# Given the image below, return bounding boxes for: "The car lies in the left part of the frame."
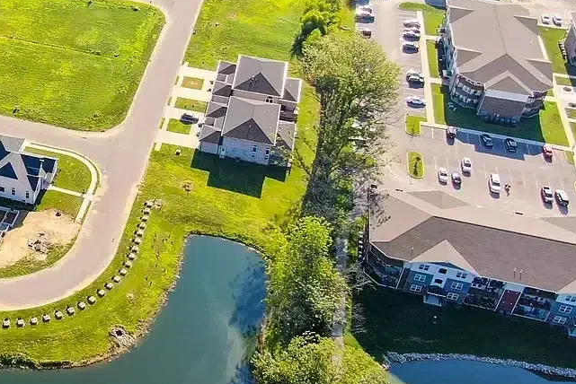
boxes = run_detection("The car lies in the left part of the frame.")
[178,110,199,123]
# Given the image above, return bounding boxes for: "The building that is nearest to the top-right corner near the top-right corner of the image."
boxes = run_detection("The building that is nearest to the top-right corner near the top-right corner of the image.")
[443,0,557,121]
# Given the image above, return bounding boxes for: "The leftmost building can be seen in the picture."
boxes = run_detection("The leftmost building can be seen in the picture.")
[0,125,65,204]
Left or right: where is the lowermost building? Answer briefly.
right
